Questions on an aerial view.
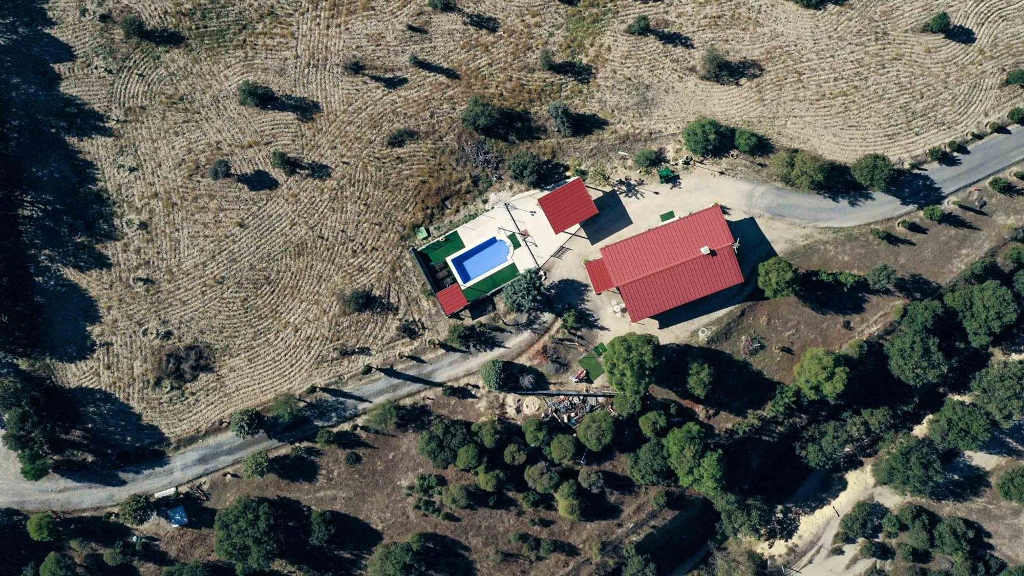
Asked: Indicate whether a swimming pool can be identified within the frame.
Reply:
Yes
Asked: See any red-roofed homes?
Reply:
Yes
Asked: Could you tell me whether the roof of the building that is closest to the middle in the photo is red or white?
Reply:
red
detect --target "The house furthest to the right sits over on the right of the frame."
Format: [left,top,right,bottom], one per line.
[585,205,744,322]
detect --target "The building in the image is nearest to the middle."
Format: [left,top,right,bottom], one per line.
[436,283,469,316]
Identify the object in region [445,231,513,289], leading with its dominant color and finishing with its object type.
blue swimming pool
